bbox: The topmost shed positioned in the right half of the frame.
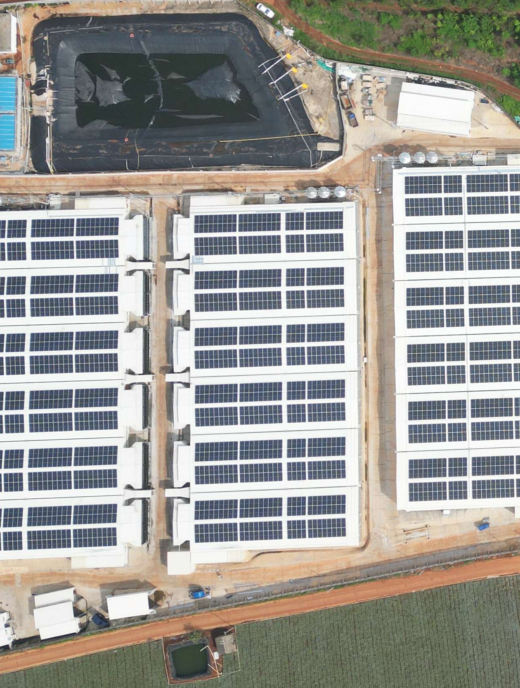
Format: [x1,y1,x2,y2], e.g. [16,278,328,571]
[397,82,474,138]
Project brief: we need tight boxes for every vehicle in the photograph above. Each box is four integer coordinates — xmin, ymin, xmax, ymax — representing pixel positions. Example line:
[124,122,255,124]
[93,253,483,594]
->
[340,92,354,113]
[33,619,81,644]
[189,590,205,599]
[90,612,108,628]
[477,522,492,532]
[348,112,358,128]
[27,587,77,612]
[0,612,11,631]
[255,2,274,18]
[0,628,18,647]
